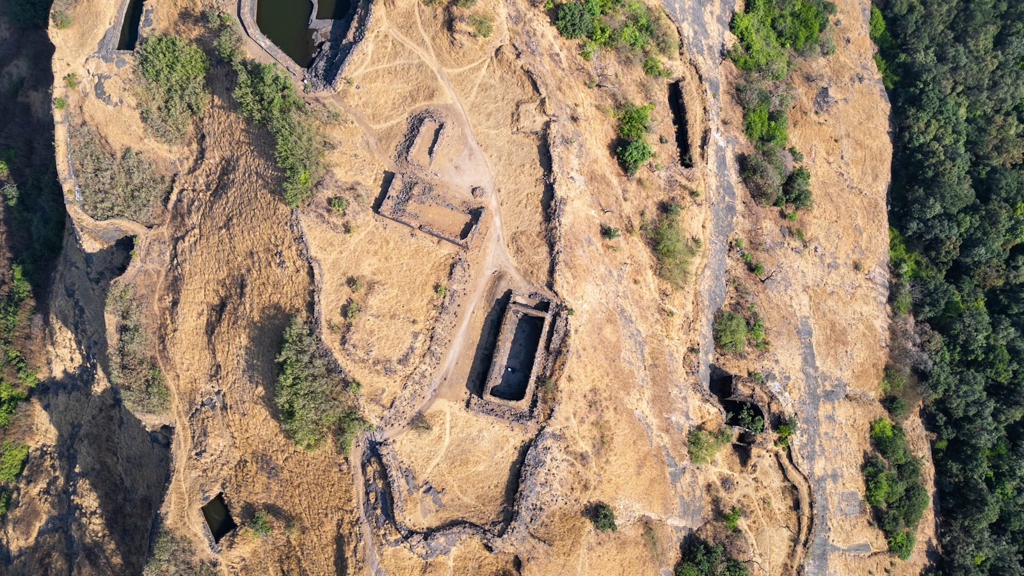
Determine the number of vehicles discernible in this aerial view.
0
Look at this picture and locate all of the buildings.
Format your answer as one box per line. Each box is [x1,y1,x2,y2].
[470,292,566,423]
[378,171,486,251]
